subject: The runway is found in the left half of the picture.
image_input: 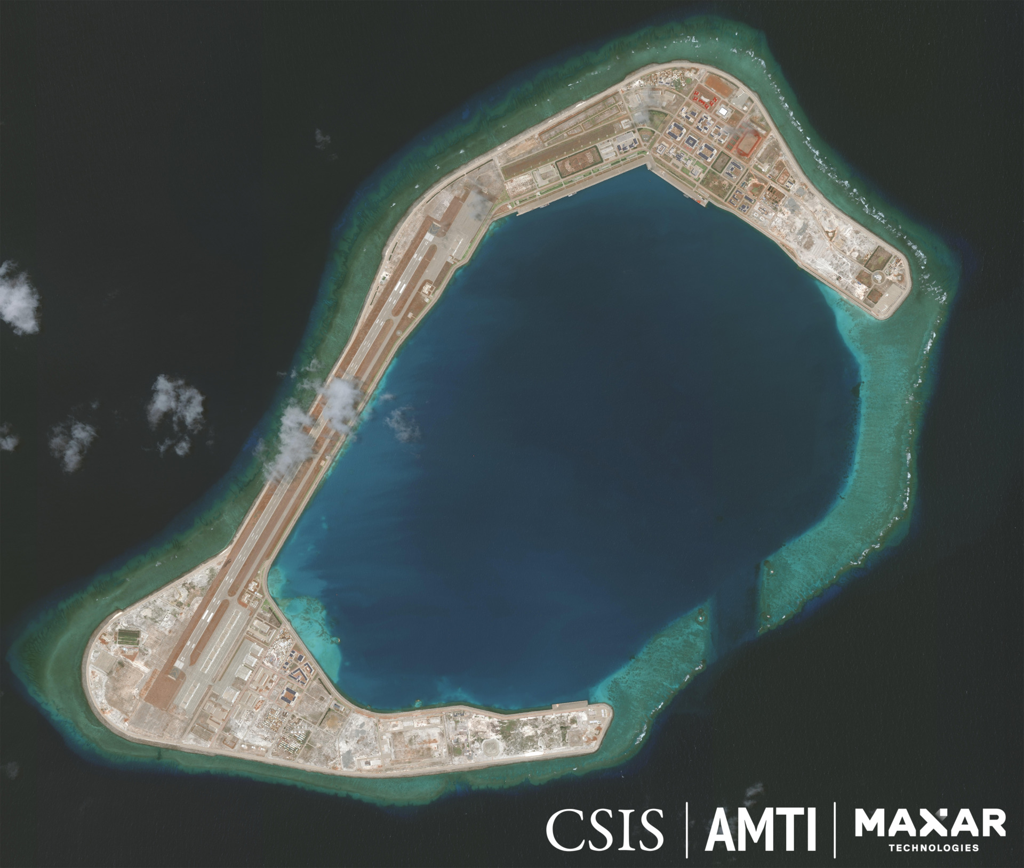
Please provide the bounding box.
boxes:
[166,218,442,683]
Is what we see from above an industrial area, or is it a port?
port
